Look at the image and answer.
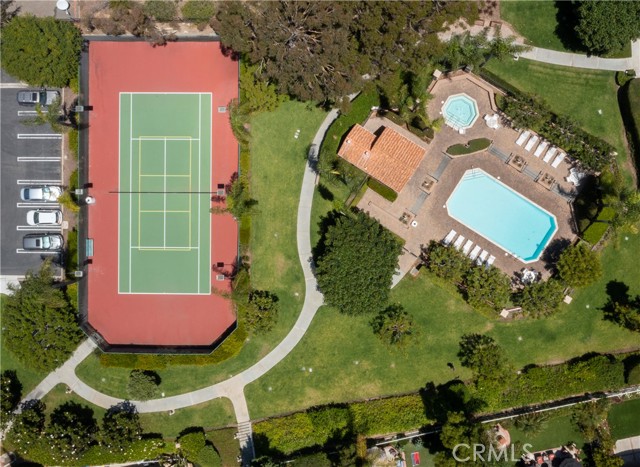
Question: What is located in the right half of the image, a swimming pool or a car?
swimming pool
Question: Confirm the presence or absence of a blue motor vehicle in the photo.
No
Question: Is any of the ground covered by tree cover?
Yes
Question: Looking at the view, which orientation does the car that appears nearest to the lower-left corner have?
from left to right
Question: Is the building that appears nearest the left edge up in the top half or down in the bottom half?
top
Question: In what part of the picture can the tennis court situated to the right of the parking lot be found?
left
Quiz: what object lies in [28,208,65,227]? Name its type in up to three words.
car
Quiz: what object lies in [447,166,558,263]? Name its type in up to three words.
swimming pool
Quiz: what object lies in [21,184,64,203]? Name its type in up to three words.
car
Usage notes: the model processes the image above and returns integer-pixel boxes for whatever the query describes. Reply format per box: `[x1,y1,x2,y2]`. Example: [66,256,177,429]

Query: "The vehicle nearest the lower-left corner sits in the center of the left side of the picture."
[22,232,66,252]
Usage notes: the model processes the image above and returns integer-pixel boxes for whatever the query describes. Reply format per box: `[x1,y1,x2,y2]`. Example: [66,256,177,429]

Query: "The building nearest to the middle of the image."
[338,123,426,193]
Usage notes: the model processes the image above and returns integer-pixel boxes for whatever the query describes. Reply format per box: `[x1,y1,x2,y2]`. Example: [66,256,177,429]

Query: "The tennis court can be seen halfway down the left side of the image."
[88,43,239,349]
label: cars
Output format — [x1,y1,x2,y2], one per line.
[21,184,64,203]
[16,87,62,108]
[22,232,66,252]
[28,208,65,227]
